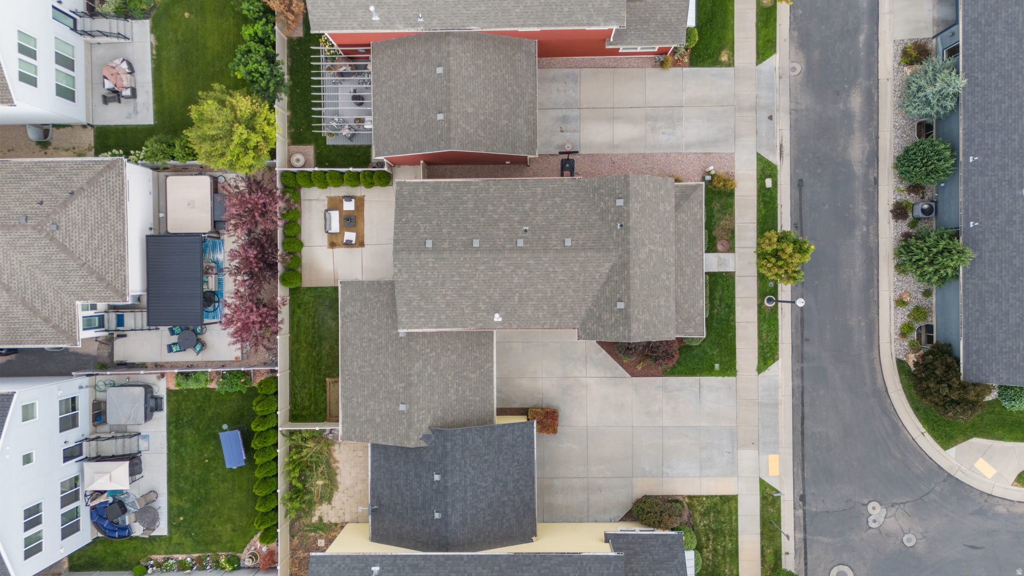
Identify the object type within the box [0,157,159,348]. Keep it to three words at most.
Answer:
house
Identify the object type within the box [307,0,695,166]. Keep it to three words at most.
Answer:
house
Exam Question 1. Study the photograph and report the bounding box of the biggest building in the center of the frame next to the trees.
[337,173,706,448]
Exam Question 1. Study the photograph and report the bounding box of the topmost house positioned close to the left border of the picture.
[0,0,94,126]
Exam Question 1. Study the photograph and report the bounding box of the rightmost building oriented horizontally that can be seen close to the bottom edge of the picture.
[307,416,694,576]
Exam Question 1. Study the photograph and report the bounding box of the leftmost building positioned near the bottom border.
[0,376,96,576]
